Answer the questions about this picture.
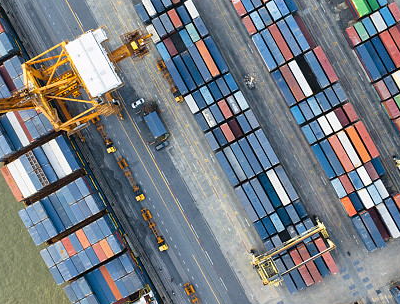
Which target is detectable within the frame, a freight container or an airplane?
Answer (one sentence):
It is a freight container that can be seen here.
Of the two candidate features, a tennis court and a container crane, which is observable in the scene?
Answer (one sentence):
The one in the frame is a container crane.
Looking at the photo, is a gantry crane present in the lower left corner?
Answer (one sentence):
No, in the lower left corner there is no gantry crane.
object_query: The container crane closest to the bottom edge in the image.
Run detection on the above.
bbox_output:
[250,212,338,284]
